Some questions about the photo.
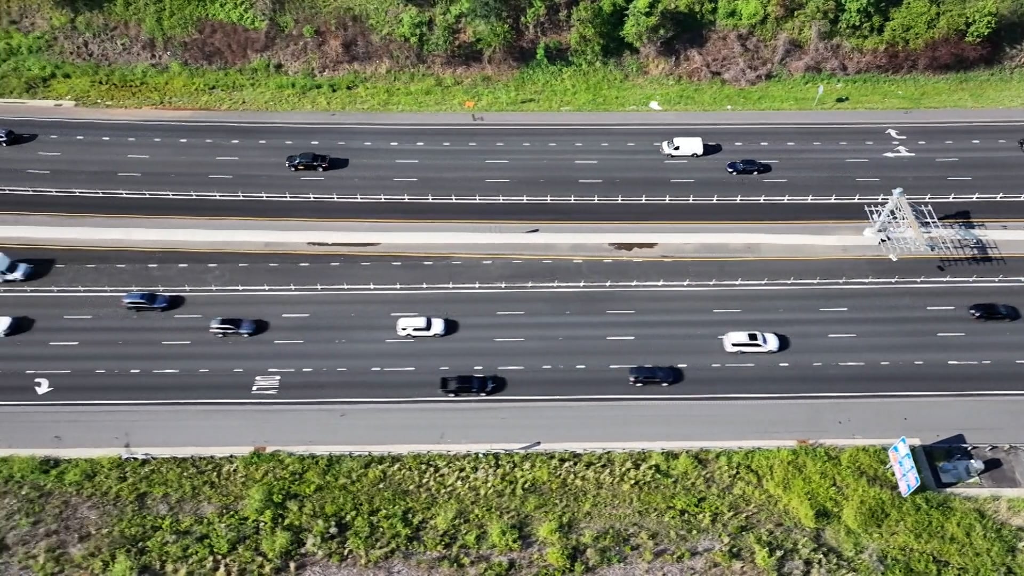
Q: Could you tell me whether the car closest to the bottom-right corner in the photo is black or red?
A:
black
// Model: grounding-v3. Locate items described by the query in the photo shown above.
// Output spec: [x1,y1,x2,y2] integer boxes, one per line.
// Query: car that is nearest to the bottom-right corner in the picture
[965,301,1015,321]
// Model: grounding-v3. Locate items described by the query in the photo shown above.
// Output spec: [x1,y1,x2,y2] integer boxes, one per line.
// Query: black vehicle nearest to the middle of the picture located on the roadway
[437,373,492,397]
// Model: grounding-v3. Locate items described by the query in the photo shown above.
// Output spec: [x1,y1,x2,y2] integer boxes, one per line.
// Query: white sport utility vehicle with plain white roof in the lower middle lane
[398,315,446,338]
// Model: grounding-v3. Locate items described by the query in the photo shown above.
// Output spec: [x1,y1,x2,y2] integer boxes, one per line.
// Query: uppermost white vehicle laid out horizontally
[661,137,705,157]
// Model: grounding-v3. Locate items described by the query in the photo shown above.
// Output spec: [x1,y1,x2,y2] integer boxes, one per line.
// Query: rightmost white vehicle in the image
[725,330,782,353]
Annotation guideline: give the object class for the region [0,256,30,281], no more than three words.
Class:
vehicle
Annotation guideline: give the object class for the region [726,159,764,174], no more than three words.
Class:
car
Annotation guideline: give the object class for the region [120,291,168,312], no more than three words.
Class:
car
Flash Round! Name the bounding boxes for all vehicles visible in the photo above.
[284,152,331,171]
[965,301,1015,321]
[437,373,492,397]
[725,330,782,353]
[120,291,168,312]
[398,315,446,338]
[661,137,705,157]
[0,317,15,336]
[726,159,764,174]
[627,363,674,386]
[0,256,30,281]
[208,315,256,337]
